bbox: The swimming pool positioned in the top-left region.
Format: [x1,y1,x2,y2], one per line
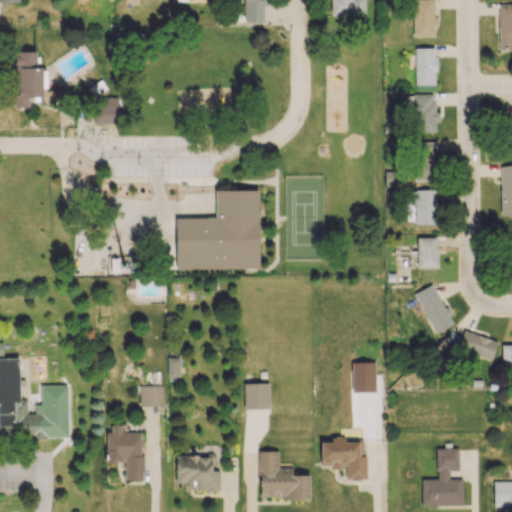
[47,46,96,86]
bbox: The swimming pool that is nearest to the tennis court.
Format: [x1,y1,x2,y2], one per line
[127,278,167,304]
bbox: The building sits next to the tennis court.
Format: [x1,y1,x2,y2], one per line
[176,190,262,270]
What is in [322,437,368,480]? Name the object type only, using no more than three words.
house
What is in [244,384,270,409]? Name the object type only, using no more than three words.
building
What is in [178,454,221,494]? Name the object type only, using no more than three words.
house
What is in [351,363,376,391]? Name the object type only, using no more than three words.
building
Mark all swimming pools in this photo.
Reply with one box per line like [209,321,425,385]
[47,46,96,86]
[127,278,167,304]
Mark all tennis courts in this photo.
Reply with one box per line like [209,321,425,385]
[286,175,324,262]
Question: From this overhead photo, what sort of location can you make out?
residential area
